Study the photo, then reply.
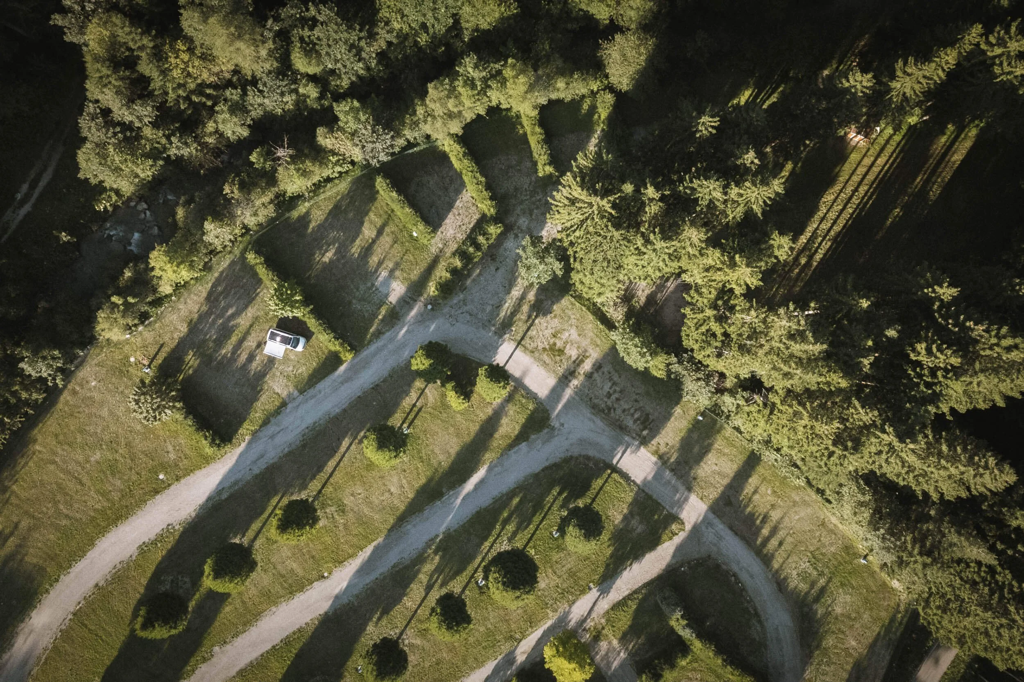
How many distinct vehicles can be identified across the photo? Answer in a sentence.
The picture shows 1 vehicle.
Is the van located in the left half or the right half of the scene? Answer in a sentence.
The van appears in the left half of the scene.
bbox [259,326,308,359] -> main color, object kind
white van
